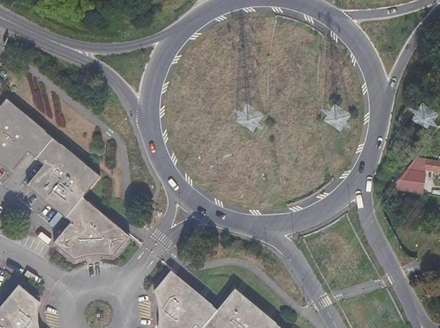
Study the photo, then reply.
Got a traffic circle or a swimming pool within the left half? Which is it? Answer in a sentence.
The one visible within the left half is a traffic circle.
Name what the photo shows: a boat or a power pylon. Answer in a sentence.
I can see a power pylon in this picture.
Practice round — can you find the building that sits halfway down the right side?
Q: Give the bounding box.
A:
[396,157,440,194]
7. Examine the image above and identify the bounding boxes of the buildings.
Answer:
[0,99,132,263]
[154,270,280,328]
[0,285,40,328]
[396,157,440,194]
